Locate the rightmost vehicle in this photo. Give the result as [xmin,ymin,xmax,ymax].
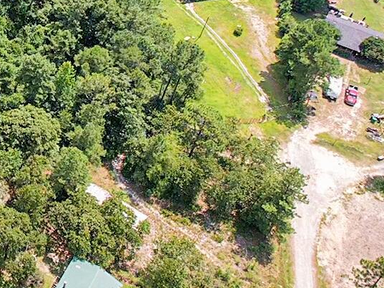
[343,83,360,105]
